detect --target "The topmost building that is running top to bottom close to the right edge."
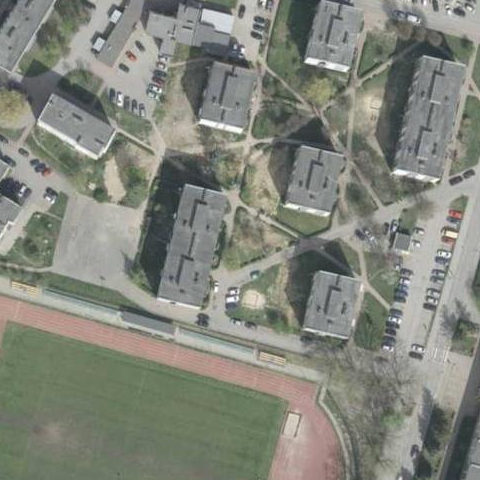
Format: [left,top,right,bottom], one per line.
[392,55,466,182]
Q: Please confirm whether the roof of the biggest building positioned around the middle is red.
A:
No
